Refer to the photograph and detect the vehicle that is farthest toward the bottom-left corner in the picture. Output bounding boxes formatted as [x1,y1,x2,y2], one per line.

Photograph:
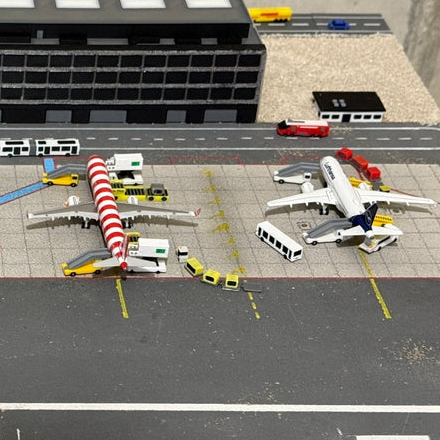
[61,249,107,276]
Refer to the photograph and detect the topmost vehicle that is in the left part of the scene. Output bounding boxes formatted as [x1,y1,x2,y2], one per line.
[0,138,80,156]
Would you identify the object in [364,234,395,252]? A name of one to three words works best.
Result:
vehicle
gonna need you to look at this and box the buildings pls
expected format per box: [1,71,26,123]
[0,0,267,123]
[312,92,387,122]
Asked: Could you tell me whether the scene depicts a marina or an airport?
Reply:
airport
